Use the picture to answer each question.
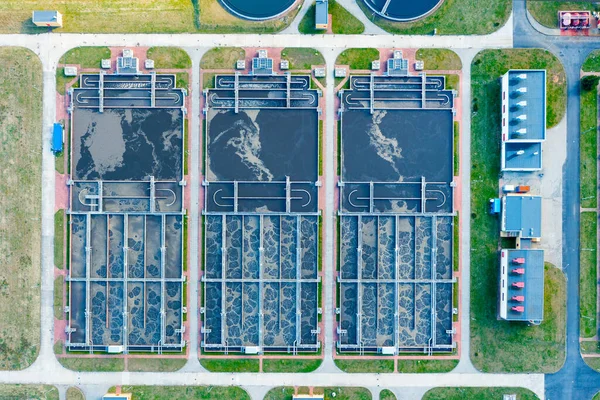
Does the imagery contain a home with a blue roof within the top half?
Yes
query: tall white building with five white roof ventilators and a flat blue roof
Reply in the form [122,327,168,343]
[501,69,547,142]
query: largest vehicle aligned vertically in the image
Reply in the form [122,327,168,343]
[52,122,66,152]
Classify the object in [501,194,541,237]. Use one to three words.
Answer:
building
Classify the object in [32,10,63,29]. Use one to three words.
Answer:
building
